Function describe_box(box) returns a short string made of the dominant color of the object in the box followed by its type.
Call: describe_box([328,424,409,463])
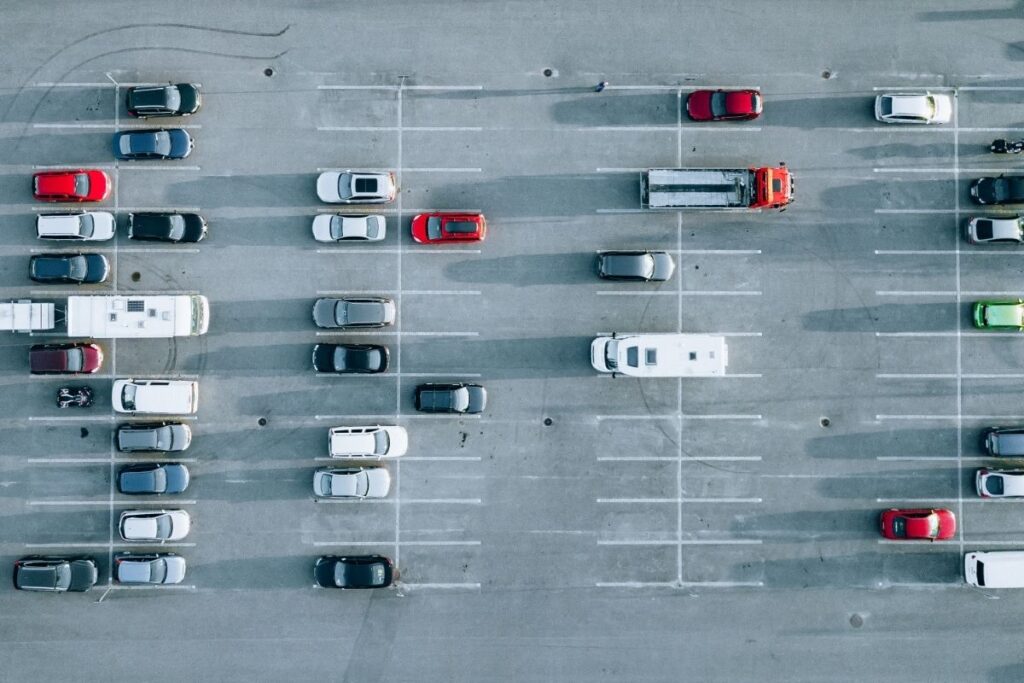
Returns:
white car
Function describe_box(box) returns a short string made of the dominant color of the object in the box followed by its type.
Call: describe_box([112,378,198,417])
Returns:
white van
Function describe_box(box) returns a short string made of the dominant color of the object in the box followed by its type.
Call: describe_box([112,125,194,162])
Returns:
blue car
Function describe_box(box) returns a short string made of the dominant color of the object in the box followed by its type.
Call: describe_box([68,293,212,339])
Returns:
white camper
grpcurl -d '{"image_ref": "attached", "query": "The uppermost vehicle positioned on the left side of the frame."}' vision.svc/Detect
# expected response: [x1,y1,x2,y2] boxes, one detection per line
[125,80,201,119]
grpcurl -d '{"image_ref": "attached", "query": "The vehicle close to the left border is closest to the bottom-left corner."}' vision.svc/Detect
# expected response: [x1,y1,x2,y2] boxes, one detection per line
[11,554,99,597]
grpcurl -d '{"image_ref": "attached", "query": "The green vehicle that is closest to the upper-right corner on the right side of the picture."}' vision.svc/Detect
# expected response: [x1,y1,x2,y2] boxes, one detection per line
[973,298,1024,332]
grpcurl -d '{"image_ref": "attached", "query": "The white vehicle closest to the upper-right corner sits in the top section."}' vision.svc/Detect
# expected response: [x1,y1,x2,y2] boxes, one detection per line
[874,90,953,126]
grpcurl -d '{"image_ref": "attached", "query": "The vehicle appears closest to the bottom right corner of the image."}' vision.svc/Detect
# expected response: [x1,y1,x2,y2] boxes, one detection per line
[964,550,1024,591]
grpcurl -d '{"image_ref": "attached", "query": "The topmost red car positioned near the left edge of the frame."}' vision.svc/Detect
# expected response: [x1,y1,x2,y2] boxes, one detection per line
[32,166,112,203]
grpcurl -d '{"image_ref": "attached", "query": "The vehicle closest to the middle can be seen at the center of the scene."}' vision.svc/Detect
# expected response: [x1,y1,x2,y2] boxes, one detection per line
[416,381,487,417]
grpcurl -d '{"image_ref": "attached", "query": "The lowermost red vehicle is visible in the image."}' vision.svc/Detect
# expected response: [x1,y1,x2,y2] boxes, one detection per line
[879,507,957,544]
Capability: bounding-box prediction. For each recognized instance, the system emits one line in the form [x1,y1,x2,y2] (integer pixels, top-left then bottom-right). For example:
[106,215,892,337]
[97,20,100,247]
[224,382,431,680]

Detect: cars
[125,80,201,119]
[11,554,99,597]
[314,552,394,593]
[969,172,1024,207]
[973,298,1024,332]
[126,209,207,245]
[416,381,487,417]
[119,508,191,546]
[974,466,1024,499]
[598,248,675,284]
[32,166,112,203]
[112,125,194,162]
[316,168,396,205]
[27,341,104,378]
[35,208,117,243]
[27,250,110,286]
[328,424,409,463]
[116,462,190,498]
[966,213,1024,247]
[312,211,387,245]
[313,294,396,331]
[312,465,390,502]
[115,421,192,457]
[686,86,764,123]
[874,90,953,126]
[114,551,186,589]
[879,507,957,544]
[313,341,390,377]
[411,209,486,246]
[980,425,1024,457]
